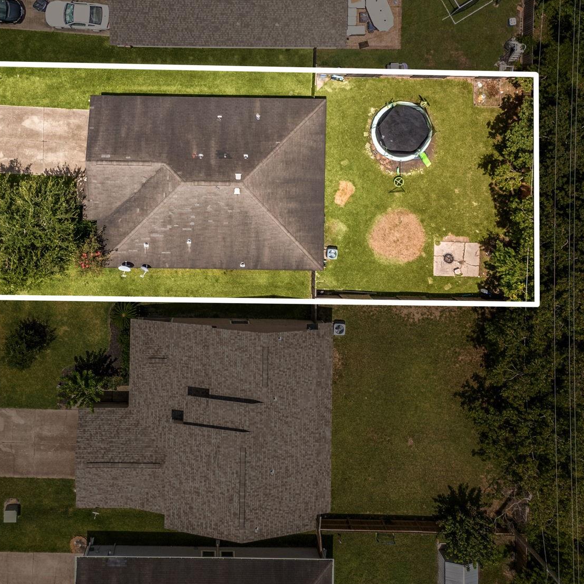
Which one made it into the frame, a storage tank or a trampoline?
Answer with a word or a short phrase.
trampoline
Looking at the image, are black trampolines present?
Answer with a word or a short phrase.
Yes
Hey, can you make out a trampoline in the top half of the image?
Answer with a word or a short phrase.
Yes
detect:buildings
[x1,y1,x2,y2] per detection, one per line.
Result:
[105,0,346,49]
[444,549,482,584]
[87,96,328,278]
[69,314,334,543]
[72,538,336,584]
